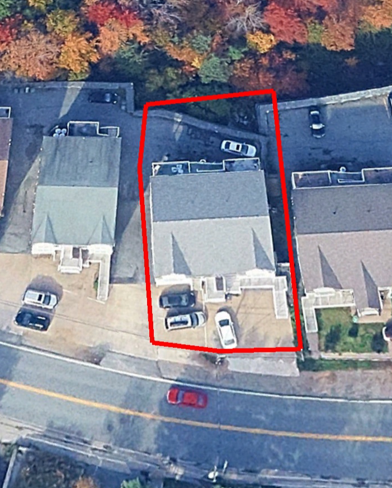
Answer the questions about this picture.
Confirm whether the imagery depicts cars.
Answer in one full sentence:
Yes, the image includes a car.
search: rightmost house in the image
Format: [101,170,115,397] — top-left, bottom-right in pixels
[290,167,392,335]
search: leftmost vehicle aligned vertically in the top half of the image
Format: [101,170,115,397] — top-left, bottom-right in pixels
[309,106,325,139]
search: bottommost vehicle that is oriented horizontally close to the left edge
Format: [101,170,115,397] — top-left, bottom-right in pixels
[14,309,52,331]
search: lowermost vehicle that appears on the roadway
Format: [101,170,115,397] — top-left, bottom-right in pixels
[166,387,209,408]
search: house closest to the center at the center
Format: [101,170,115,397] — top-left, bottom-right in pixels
[151,157,288,321]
